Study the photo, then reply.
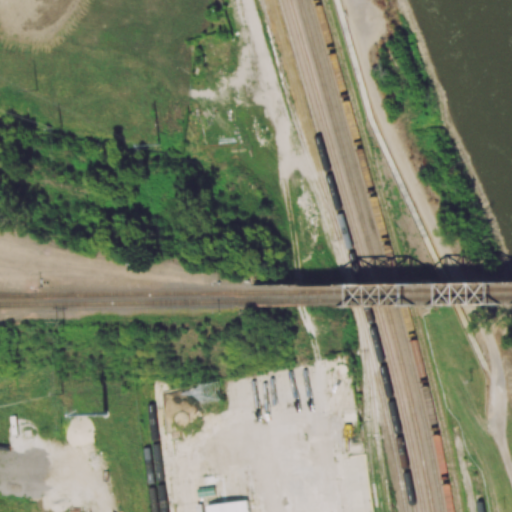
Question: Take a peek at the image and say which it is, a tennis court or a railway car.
railway car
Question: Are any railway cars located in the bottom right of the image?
Yes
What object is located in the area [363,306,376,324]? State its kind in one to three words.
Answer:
rail car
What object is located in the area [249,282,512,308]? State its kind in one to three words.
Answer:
bridge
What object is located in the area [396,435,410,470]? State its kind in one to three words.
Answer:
rail car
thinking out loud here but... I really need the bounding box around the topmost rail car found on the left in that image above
[148,401,162,442]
